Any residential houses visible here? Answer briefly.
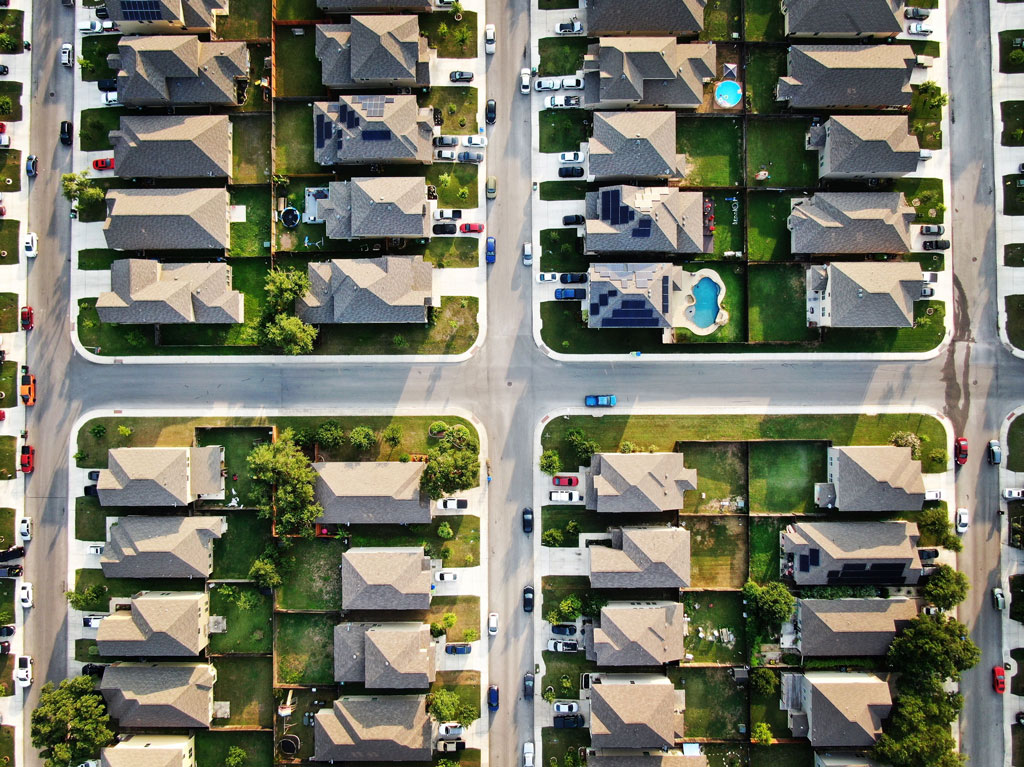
Yes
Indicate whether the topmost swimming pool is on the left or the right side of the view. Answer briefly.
right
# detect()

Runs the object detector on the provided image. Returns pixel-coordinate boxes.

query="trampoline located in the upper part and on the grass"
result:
[279,206,299,225]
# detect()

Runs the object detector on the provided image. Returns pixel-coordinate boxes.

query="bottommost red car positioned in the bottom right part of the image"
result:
[992,667,1005,692]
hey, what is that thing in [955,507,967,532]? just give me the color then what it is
white vehicle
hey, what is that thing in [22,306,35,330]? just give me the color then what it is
red vehicle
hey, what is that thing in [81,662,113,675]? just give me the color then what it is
black vehicle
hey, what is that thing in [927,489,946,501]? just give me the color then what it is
white vehicle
